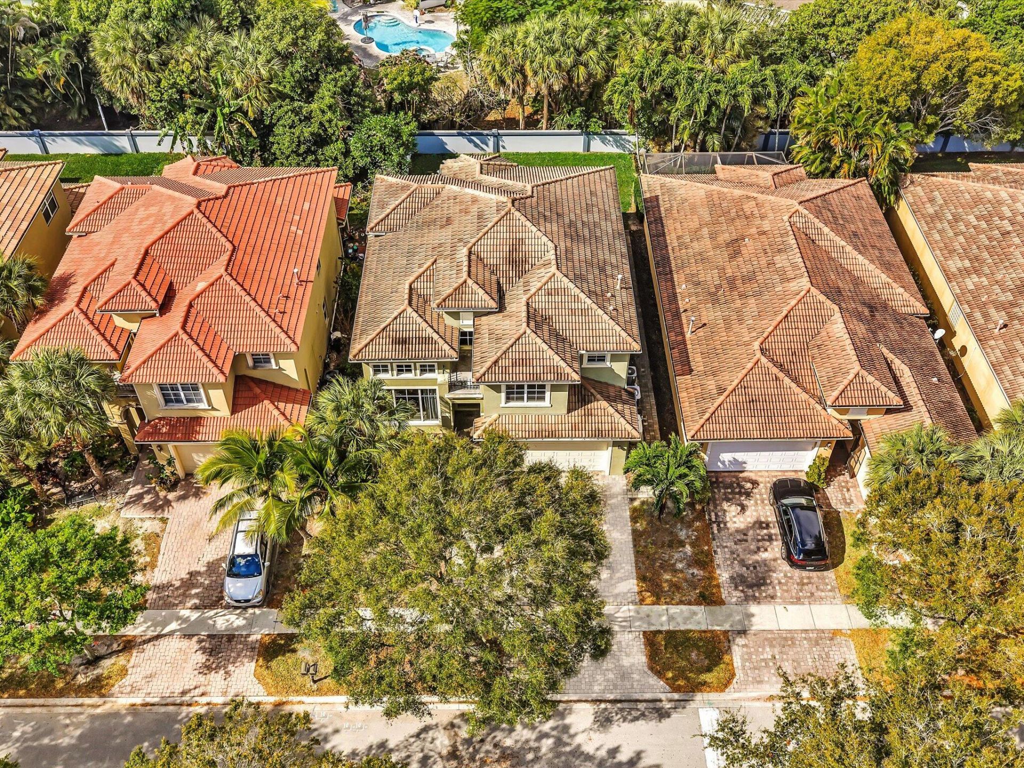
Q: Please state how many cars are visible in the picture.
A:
2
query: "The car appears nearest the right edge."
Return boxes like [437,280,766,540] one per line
[768,474,834,577]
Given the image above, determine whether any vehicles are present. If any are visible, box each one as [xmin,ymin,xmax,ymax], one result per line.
[220,512,275,609]
[768,474,834,577]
